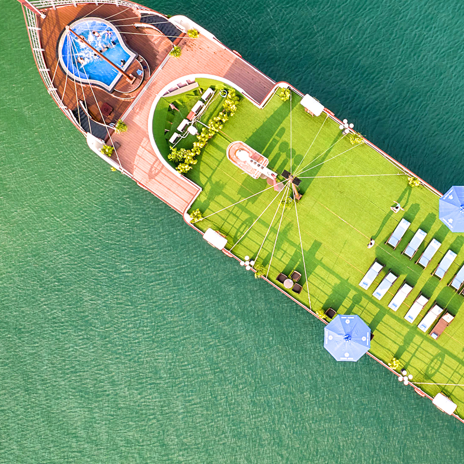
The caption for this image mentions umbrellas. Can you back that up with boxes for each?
[439,187,464,233]
[325,316,372,362]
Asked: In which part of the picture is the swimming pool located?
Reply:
top left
